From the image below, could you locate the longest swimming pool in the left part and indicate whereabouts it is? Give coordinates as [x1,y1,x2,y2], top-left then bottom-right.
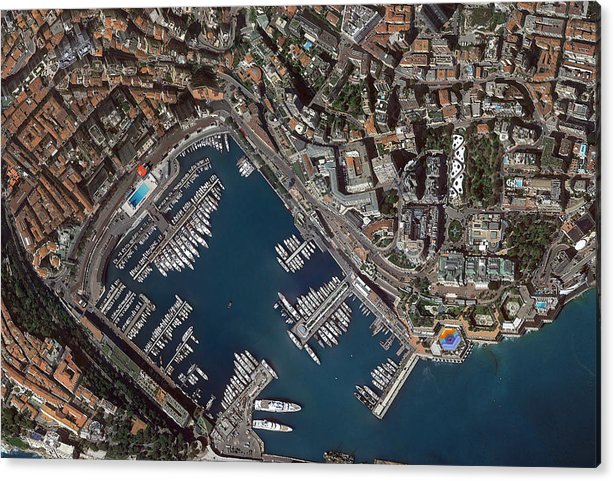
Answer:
[122,174,158,217]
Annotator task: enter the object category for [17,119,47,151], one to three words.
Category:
building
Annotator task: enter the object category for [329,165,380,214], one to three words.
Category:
house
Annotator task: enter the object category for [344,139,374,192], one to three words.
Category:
building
